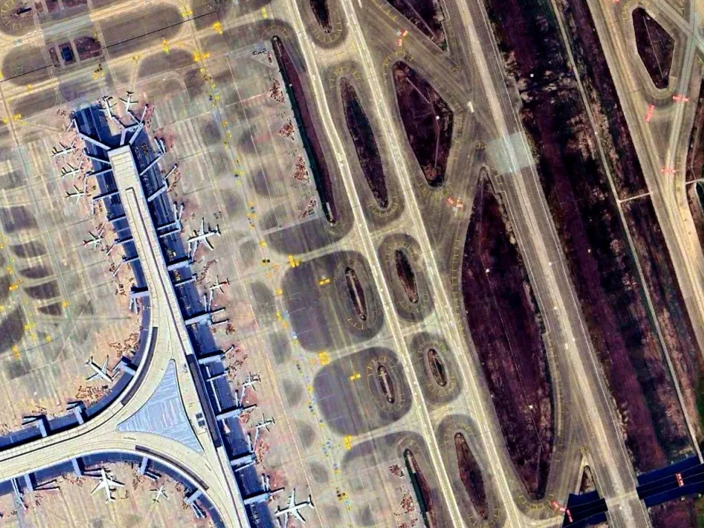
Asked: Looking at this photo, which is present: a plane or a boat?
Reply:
plane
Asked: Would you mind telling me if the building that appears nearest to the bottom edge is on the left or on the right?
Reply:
left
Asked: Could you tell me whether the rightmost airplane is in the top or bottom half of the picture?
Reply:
bottom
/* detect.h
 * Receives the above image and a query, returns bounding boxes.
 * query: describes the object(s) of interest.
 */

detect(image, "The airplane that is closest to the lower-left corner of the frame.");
[91,469,124,505]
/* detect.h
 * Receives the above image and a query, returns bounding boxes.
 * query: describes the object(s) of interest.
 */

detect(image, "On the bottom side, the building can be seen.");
[0,145,251,528]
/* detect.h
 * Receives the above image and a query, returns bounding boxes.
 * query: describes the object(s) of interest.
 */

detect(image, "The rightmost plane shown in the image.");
[276,494,313,527]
